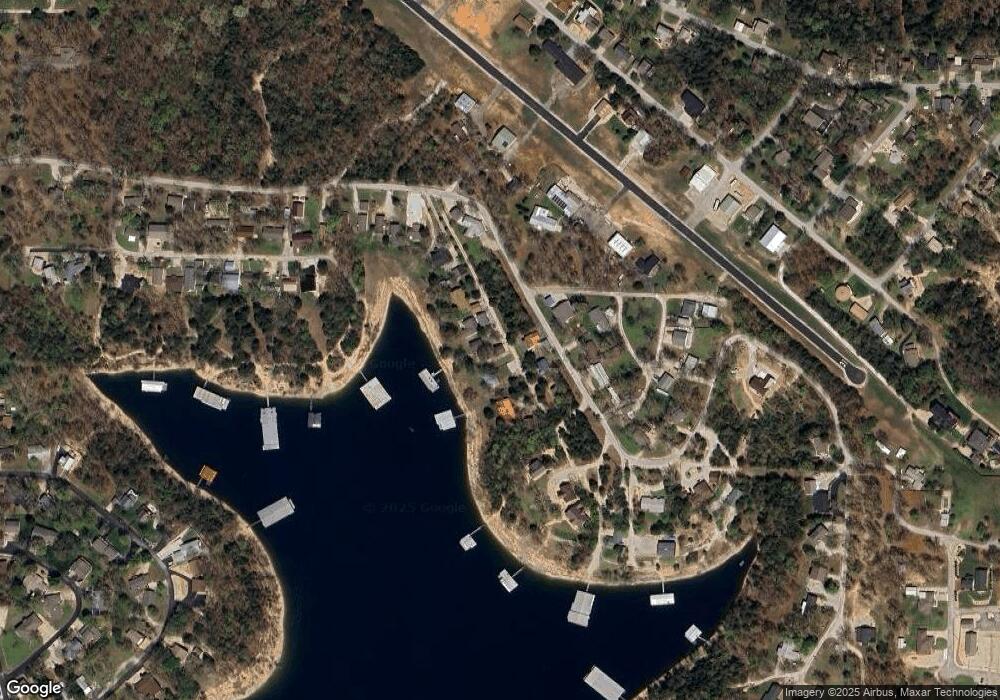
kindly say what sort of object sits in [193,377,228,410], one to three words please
pier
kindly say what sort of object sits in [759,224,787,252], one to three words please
hangar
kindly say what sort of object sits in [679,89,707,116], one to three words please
house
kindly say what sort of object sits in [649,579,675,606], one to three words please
pier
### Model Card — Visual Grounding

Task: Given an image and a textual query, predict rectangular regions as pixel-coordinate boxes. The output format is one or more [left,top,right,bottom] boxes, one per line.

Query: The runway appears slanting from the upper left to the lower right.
[401,0,864,383]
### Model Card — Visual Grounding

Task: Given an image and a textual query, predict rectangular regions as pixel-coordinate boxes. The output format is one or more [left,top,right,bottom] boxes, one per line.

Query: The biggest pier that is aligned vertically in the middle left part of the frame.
[261,398,279,449]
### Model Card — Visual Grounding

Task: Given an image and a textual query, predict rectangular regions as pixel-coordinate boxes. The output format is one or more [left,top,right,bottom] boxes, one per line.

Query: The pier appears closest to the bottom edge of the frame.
[583,664,626,700]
